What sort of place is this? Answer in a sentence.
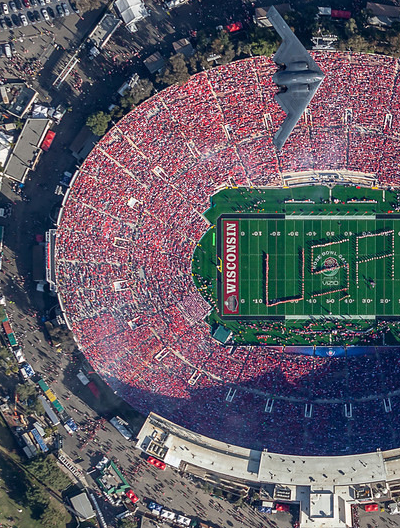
The area seen from above is a sports ground.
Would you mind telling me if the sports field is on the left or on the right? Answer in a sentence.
It is on the right.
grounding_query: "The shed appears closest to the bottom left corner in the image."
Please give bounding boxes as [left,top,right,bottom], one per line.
[70,492,95,522]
